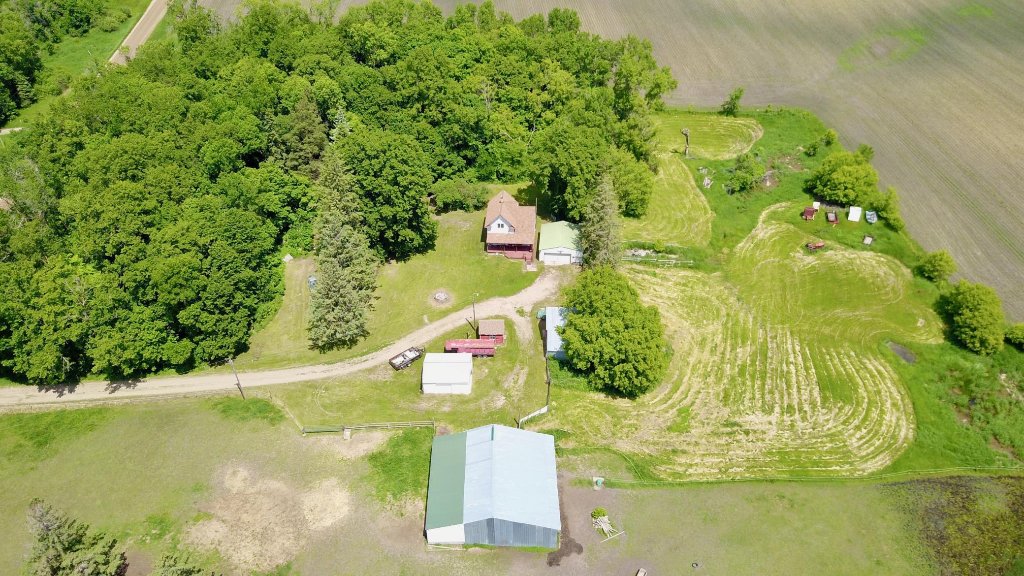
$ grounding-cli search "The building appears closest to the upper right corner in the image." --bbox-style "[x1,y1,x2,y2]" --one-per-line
[539,218,585,262]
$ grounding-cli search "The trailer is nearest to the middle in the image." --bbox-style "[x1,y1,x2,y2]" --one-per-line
[445,340,494,359]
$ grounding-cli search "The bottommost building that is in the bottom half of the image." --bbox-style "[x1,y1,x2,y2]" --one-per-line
[425,423,559,545]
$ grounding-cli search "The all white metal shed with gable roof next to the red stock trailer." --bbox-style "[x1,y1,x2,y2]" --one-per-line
[421,352,473,394]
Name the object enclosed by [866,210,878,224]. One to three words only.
boat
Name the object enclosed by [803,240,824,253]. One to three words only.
vehicle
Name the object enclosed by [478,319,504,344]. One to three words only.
shed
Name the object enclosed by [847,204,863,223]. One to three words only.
vehicle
